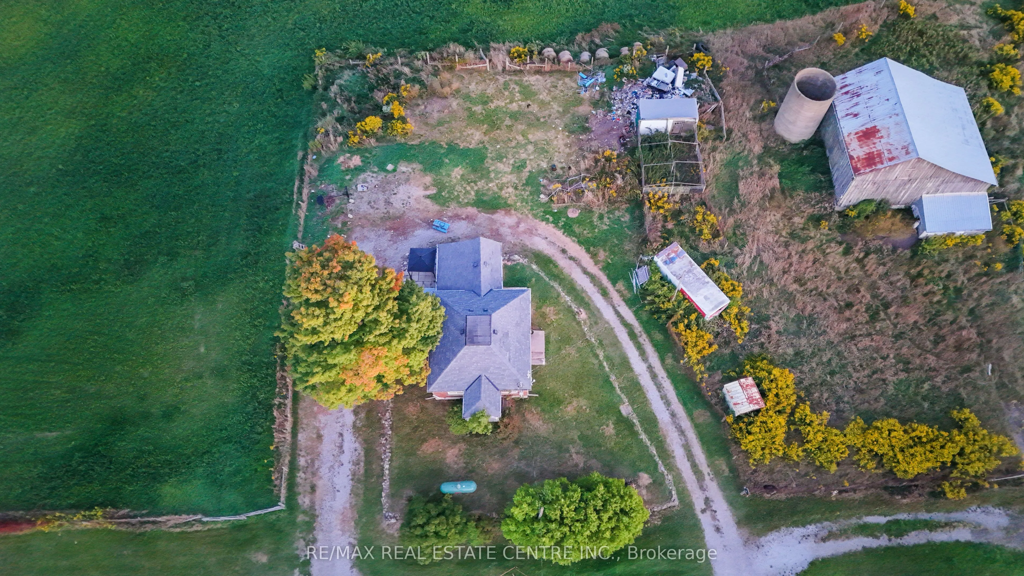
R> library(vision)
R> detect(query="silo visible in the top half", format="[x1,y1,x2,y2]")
[773,69,837,142]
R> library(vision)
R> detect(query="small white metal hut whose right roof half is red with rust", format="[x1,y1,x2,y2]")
[722,377,765,416]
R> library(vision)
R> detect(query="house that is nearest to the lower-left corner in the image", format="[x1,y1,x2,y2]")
[424,237,545,422]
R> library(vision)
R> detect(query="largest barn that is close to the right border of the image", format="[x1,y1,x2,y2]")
[820,56,998,208]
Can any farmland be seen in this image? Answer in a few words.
Yes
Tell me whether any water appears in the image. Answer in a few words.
No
